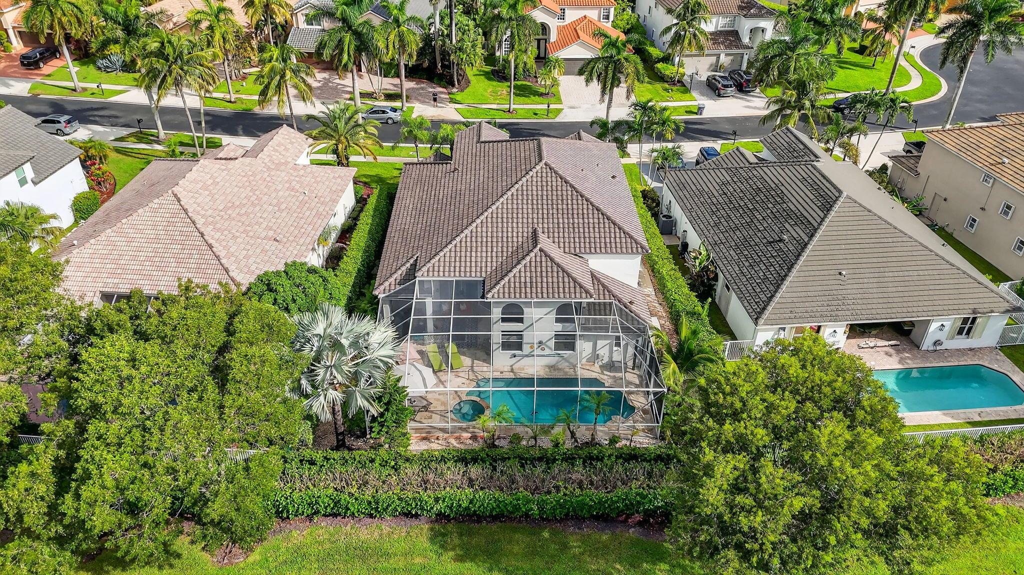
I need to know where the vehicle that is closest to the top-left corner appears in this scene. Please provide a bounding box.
[22,46,57,64]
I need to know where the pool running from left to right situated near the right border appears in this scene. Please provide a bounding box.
[853,361,1024,419]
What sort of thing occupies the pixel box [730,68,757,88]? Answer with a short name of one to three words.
car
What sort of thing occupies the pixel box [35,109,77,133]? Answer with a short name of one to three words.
car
